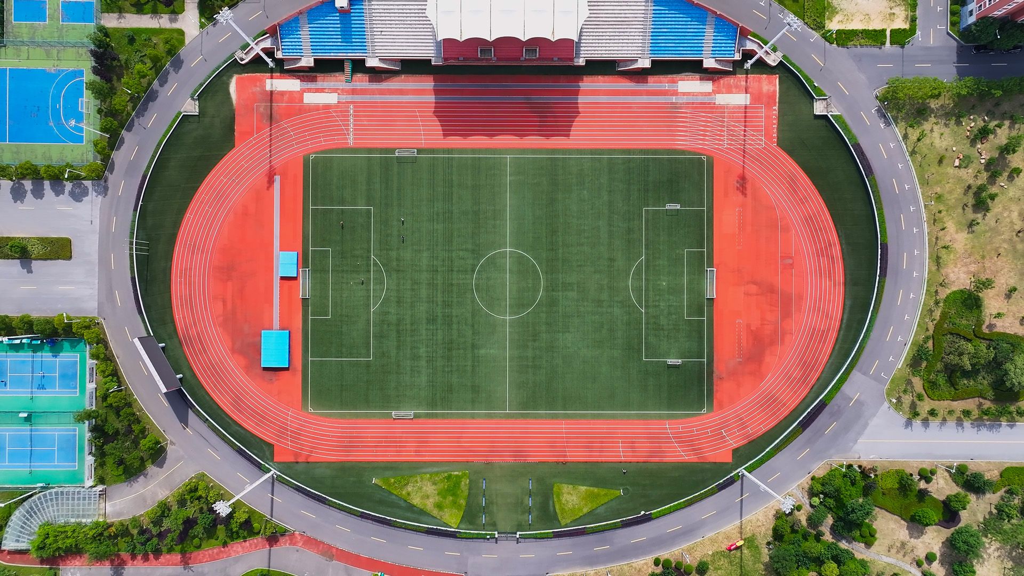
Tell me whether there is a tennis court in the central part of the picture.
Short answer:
No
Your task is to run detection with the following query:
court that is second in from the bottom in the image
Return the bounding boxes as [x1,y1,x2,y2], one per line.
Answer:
[0,339,86,413]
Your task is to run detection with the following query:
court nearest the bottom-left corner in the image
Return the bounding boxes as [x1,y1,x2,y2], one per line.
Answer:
[0,414,85,487]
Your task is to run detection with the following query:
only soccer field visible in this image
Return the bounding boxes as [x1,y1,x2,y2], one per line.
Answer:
[302,148,714,419]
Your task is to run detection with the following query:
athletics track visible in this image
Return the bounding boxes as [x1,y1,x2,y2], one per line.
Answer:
[171,74,845,462]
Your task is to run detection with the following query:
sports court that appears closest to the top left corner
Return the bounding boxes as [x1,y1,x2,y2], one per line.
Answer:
[4,0,53,46]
